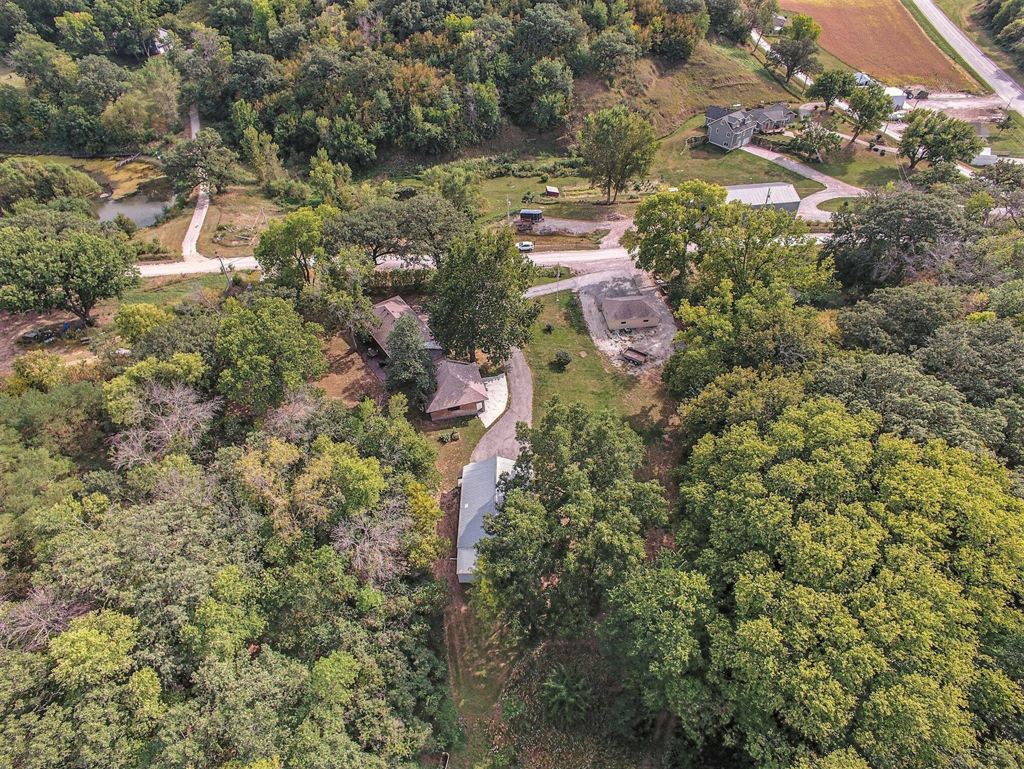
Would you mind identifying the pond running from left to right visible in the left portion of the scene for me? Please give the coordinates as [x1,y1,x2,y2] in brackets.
[0,155,178,229]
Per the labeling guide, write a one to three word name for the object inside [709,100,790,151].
house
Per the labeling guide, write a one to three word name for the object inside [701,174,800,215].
barn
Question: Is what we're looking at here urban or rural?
rural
